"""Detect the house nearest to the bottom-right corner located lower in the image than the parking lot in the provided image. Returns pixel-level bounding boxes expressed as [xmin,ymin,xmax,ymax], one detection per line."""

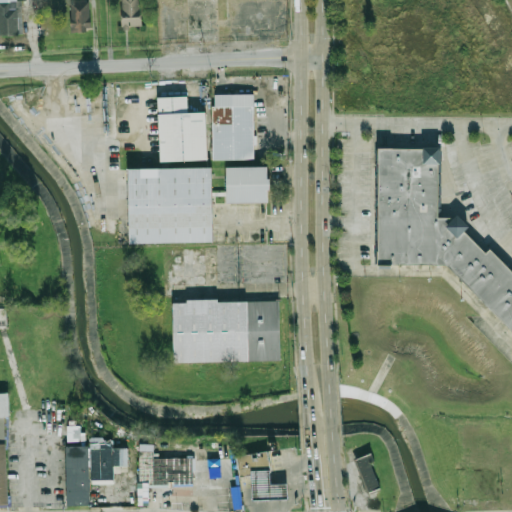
[356,455,382,498]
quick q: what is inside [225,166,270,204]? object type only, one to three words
building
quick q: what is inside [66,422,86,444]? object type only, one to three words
shed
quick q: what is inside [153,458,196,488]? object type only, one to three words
shed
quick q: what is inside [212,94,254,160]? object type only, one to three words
building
